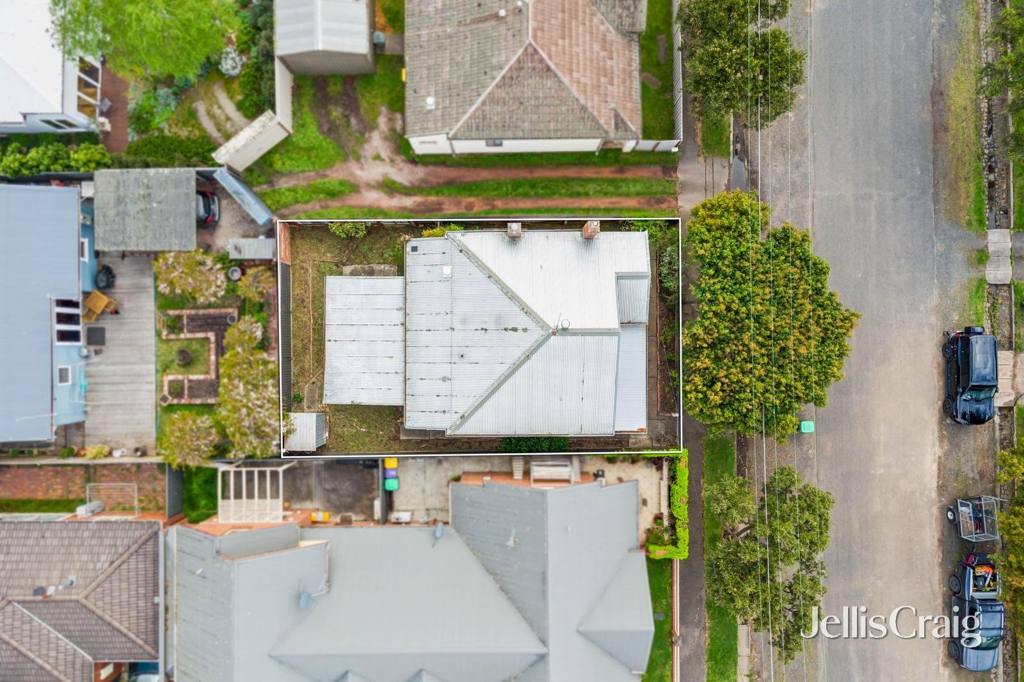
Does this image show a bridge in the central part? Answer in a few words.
No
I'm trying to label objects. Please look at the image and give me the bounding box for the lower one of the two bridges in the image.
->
[993,351,1014,406]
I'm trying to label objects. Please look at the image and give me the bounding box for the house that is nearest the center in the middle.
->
[322,219,653,439]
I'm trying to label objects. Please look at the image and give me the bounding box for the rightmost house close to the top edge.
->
[401,0,648,156]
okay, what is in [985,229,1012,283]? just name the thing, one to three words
bridge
